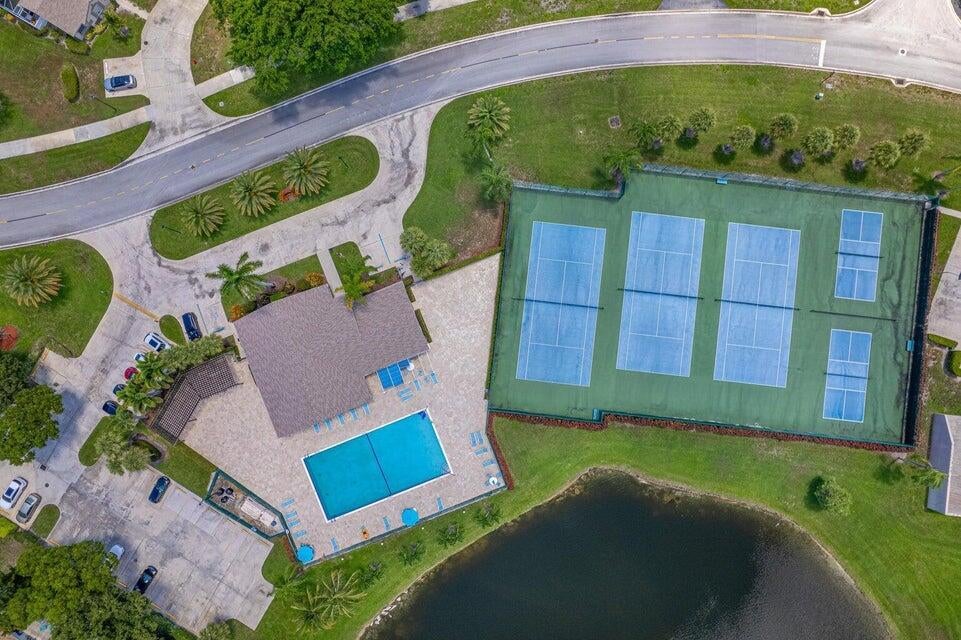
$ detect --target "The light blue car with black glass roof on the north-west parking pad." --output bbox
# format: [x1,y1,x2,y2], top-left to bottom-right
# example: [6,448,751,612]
[103,72,136,90]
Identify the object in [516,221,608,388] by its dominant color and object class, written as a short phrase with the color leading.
blue tennis court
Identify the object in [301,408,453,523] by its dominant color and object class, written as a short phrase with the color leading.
blue swimming pool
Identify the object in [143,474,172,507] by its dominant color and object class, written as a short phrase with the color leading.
blue car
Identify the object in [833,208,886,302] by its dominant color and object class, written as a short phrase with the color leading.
blue sports court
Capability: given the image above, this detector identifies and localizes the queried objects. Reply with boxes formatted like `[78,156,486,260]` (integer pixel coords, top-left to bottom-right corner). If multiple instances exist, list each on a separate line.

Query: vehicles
[138,331,173,353]
[131,566,157,594]
[0,478,24,510]
[105,380,136,404]
[97,399,114,420]
[178,310,200,340]
[143,474,172,507]
[103,72,136,90]
[127,349,152,369]
[117,365,144,385]
[13,492,40,526]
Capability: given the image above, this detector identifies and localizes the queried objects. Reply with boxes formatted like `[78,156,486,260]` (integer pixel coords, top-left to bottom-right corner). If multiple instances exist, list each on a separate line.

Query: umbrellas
[297,543,315,561]
[402,508,419,526]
